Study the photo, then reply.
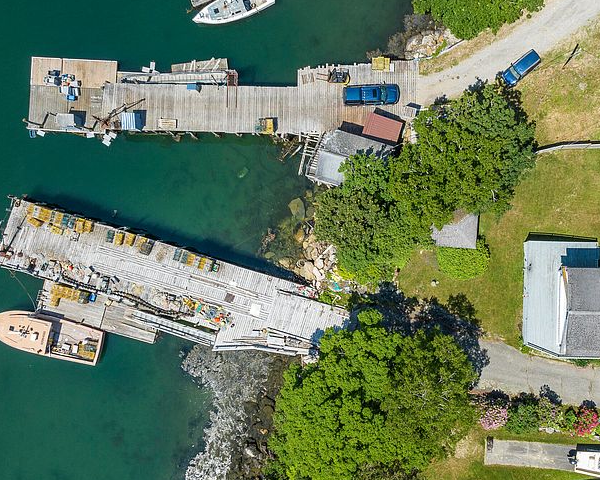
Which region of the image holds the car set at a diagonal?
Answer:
top right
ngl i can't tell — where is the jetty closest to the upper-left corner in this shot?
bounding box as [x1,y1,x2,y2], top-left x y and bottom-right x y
[29,56,63,87]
